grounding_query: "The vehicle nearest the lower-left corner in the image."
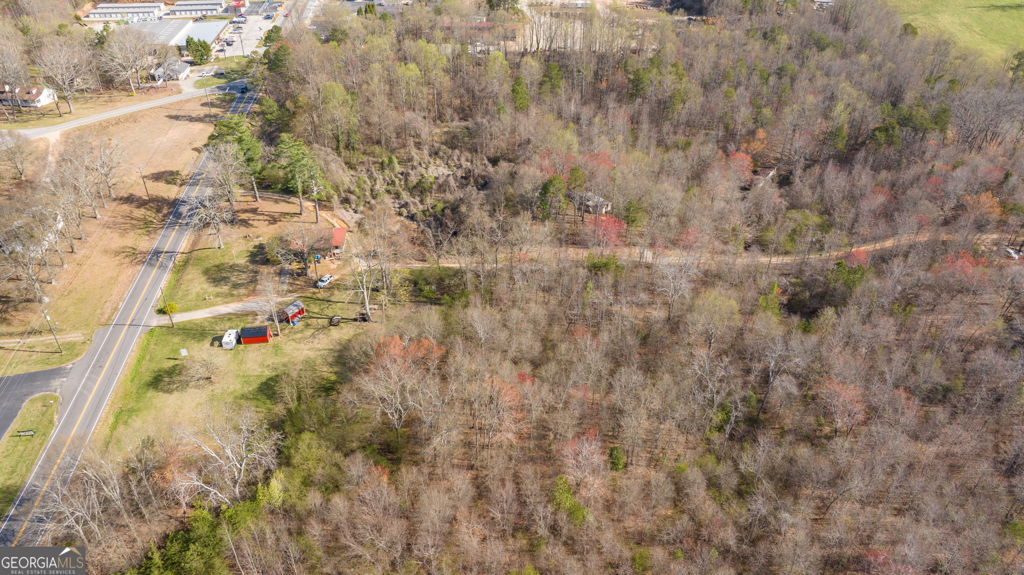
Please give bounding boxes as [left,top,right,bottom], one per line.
[218,324,240,349]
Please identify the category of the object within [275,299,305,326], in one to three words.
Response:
shed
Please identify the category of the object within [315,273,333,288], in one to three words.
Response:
car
